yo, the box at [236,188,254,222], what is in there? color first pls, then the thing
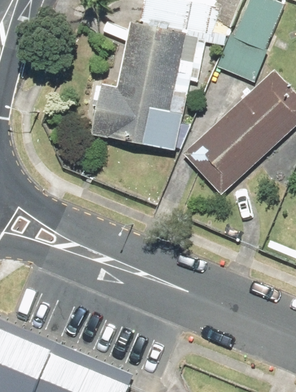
white car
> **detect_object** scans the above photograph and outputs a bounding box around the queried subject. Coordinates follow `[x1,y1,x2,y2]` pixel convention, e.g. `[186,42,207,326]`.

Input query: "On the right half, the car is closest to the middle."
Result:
[177,254,210,274]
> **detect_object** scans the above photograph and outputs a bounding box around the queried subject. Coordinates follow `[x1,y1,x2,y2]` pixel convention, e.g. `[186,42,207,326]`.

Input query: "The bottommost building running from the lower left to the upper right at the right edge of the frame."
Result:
[184,69,296,196]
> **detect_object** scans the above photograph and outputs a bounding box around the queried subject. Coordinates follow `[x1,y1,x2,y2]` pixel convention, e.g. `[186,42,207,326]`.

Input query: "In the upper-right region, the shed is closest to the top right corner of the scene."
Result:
[219,0,286,84]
